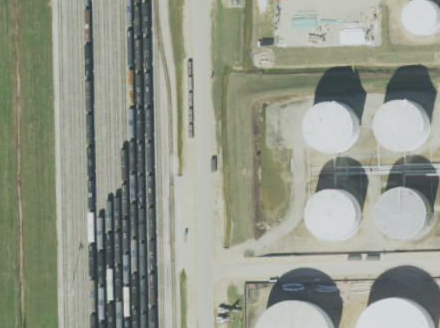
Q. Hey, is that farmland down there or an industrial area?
industrial area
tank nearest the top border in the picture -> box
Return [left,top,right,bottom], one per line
[402,0,440,35]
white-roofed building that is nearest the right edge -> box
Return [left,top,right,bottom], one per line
[340,29,365,44]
